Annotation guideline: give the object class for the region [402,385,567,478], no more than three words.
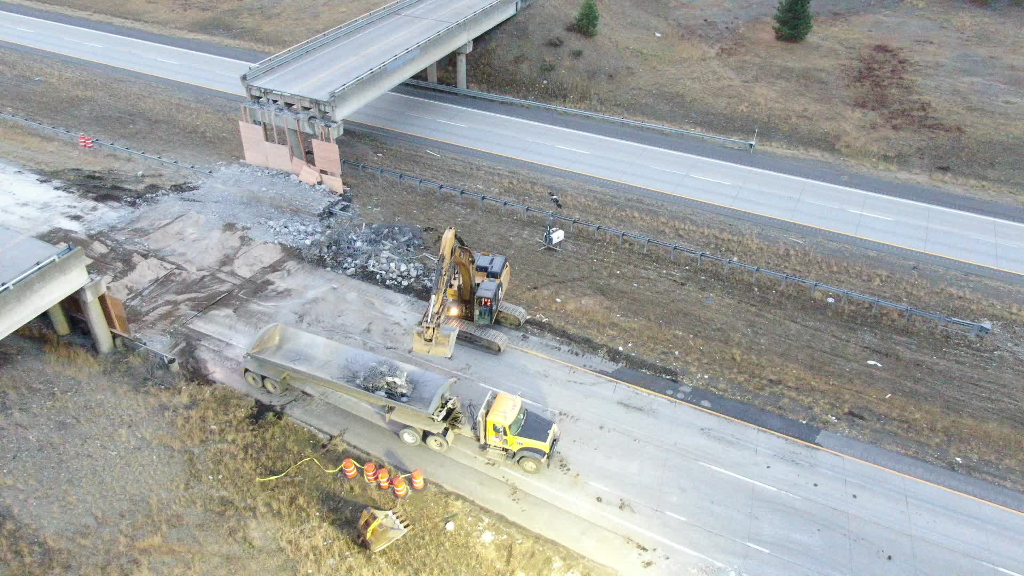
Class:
truck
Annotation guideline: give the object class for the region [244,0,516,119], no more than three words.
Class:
overpass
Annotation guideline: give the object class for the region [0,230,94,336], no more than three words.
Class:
overpass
